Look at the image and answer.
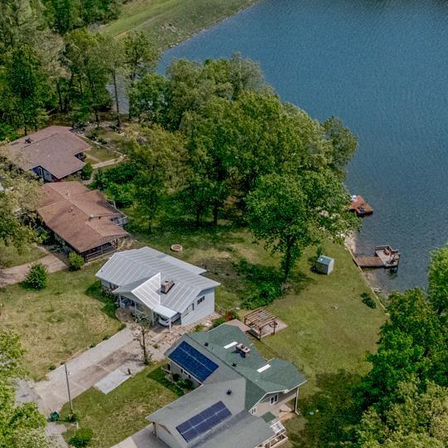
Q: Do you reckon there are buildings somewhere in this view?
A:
Yes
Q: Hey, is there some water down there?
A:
Yes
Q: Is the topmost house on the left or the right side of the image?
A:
left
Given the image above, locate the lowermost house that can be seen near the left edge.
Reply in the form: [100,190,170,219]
[19,184,138,263]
